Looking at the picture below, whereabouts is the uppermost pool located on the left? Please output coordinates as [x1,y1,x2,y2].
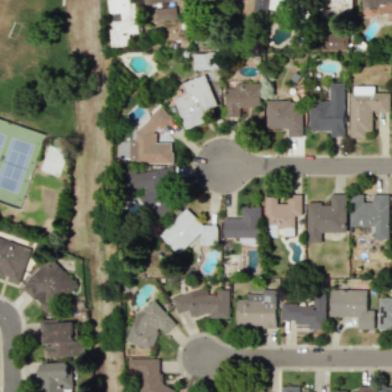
[130,56,153,74]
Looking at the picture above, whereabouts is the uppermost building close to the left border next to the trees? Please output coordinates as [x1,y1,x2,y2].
[0,238,31,283]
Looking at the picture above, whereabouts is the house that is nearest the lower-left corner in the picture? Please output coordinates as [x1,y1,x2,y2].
[36,362,72,392]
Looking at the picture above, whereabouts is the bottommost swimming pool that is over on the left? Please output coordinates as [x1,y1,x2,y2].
[136,283,154,306]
